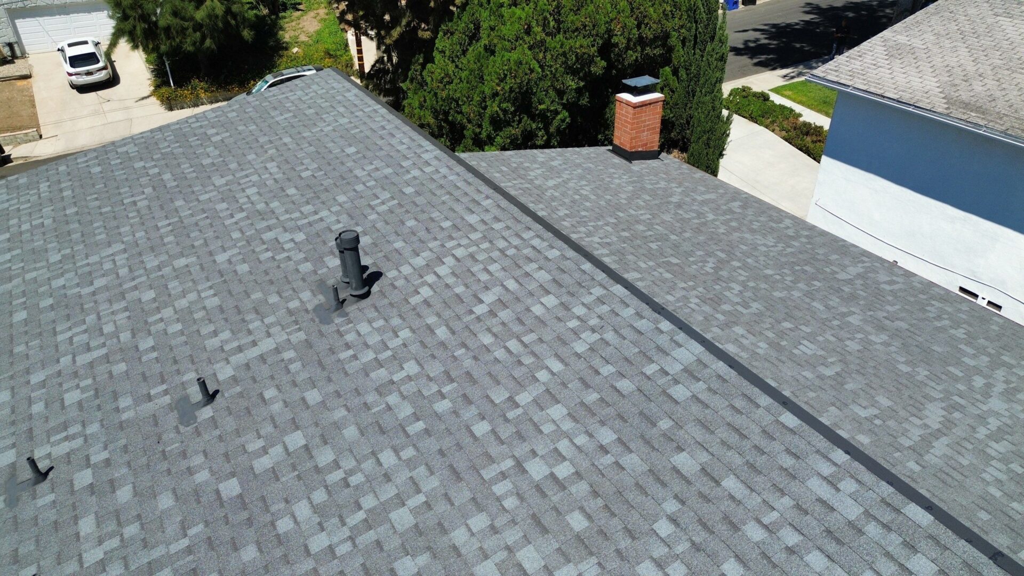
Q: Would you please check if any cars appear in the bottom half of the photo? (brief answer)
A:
No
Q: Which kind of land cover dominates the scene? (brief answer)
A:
buildings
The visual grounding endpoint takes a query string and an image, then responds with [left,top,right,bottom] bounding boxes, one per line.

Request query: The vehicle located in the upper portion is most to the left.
[45,38,109,88]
